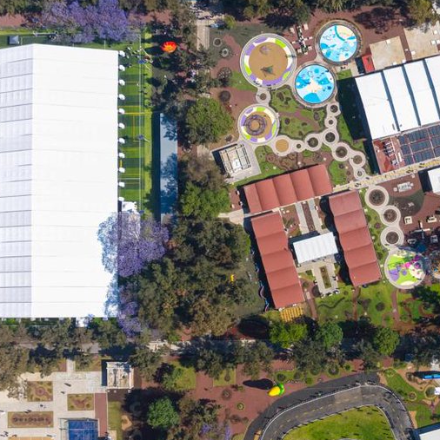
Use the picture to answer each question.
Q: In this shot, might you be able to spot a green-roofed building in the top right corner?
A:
No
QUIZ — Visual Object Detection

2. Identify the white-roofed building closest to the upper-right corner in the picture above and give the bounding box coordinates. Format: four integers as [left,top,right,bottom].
[355,56,440,176]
